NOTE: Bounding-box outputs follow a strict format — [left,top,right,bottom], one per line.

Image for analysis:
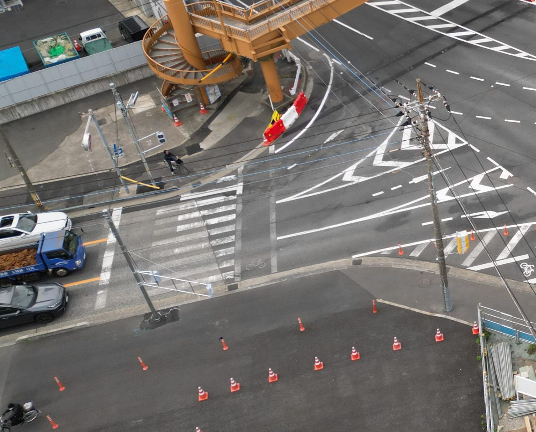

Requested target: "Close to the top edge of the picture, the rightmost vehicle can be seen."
[116,3,148,40]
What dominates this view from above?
paved ground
